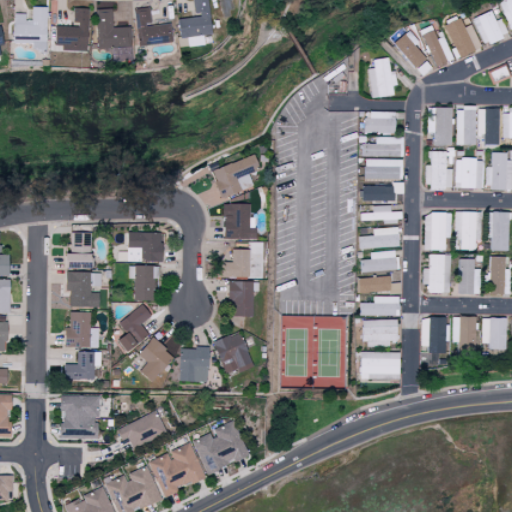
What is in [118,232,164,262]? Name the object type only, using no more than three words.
house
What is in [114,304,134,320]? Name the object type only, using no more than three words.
swimming pool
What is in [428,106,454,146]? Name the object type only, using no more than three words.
house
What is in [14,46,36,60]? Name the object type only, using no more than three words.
swimming pool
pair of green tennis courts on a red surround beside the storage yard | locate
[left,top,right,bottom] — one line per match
[282,316,347,388]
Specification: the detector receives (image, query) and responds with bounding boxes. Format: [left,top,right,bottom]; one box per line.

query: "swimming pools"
[114,304,134,320]
[97,238,106,260]
[92,52,112,62]
[257,210,266,234]
[96,312,108,334]
[152,44,175,56]
[14,46,36,60]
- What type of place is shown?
residential area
